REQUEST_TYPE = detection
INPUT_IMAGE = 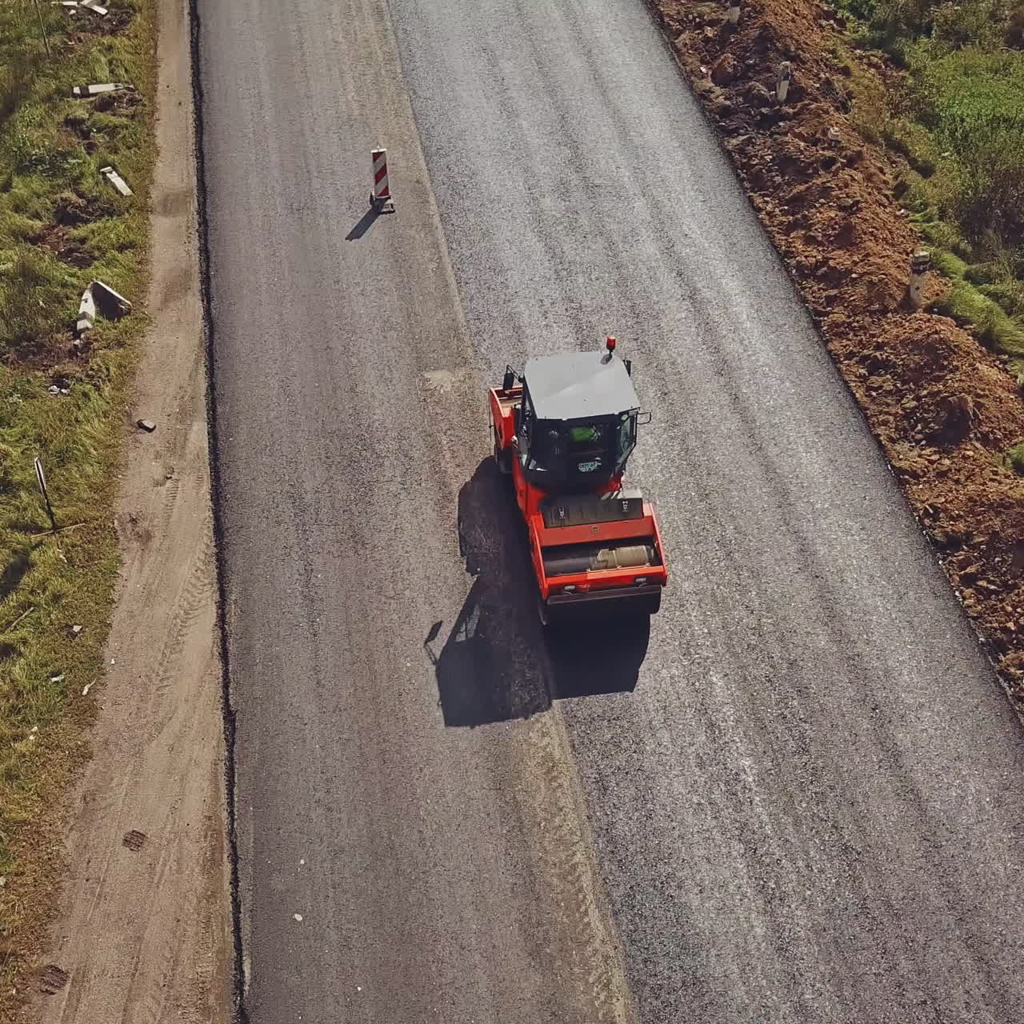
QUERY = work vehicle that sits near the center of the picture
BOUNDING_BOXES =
[487,333,667,625]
